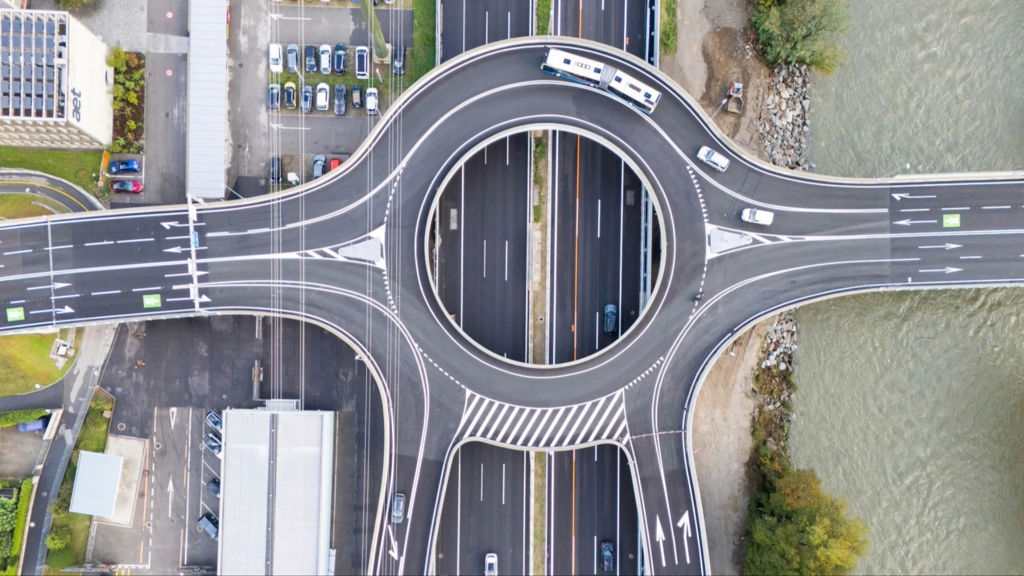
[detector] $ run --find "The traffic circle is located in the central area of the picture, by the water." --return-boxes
[204,36,892,479]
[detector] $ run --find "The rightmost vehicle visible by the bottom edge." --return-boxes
[600,540,615,571]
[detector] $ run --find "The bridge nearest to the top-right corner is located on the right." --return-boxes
[884,166,1024,292]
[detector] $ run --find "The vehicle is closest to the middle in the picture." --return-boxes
[604,304,617,333]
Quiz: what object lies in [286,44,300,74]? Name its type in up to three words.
car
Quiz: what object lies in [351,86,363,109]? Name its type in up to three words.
vehicle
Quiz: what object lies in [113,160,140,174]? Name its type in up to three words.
car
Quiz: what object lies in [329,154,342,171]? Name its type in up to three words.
vehicle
